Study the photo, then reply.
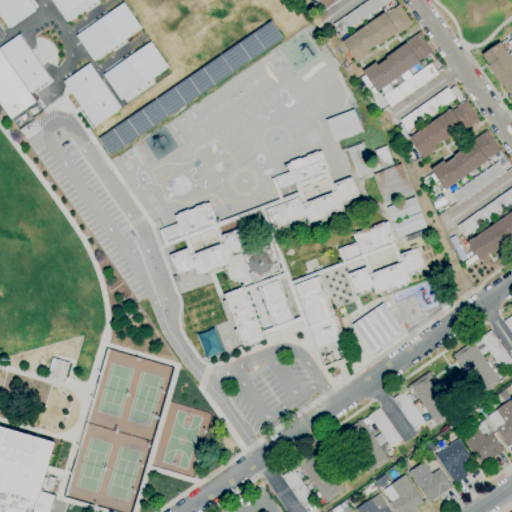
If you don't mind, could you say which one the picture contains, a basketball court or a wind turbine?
basketball court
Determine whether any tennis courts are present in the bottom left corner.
Yes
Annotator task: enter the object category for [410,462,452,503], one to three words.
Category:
house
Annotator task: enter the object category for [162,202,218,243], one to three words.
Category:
building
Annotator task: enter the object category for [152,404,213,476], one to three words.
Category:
basketball court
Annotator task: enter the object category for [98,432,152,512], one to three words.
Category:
tennis court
